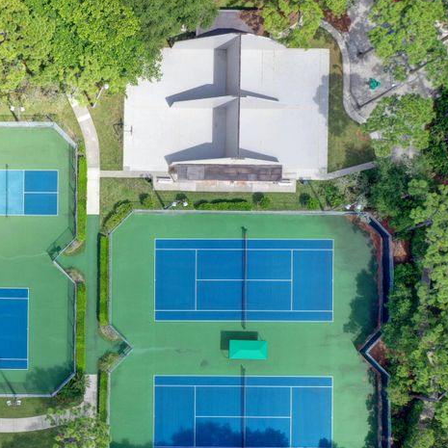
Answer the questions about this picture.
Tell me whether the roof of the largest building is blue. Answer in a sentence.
No, the roof of the largest building is white.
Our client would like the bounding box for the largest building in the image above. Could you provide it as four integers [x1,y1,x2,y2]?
[123,9,330,184]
